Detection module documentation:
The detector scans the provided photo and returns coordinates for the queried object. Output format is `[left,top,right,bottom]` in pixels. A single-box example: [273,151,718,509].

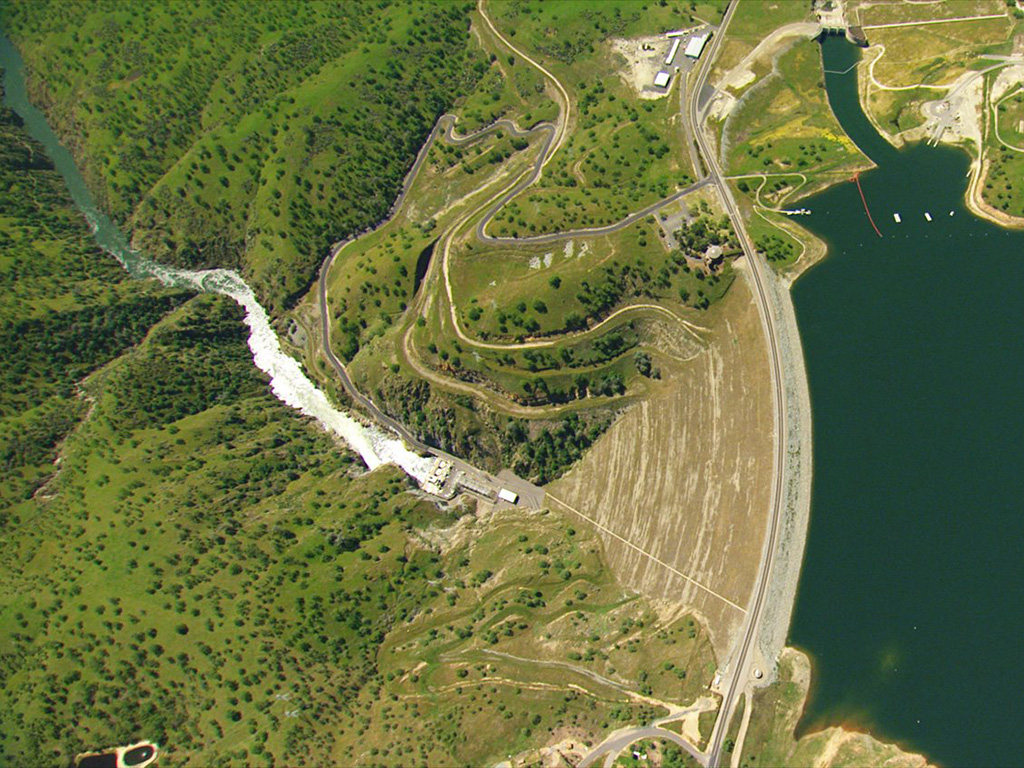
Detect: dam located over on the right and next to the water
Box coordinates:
[545,254,811,672]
